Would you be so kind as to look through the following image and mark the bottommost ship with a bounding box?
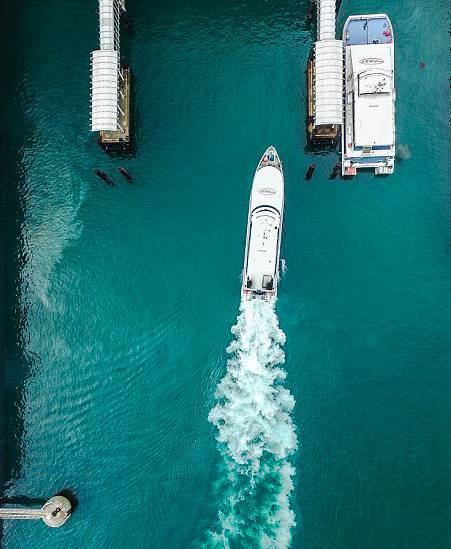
[241,145,284,301]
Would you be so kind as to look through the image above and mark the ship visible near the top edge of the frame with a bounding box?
[337,10,396,178]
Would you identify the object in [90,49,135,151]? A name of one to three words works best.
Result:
pier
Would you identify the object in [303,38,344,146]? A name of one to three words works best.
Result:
pier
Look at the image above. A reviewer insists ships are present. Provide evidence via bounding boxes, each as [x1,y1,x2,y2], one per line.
[241,145,284,301]
[337,10,396,178]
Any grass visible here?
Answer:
No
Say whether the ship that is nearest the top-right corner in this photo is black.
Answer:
No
